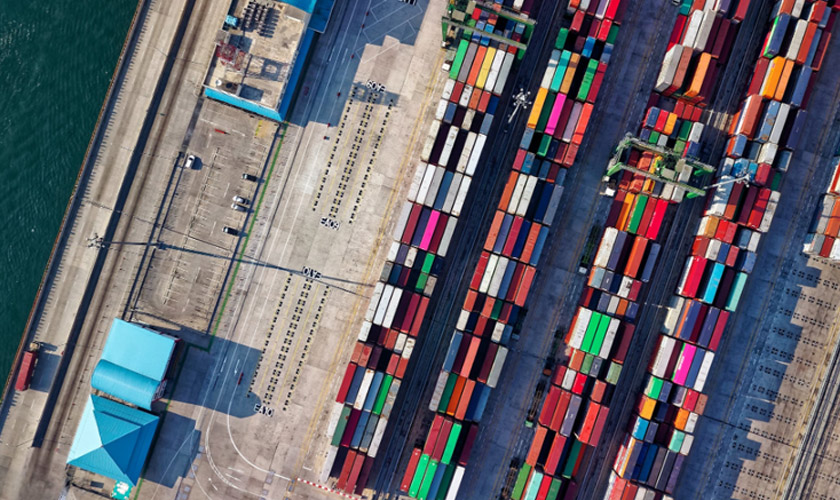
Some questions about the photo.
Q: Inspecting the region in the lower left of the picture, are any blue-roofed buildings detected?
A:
Yes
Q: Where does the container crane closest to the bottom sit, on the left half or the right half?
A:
right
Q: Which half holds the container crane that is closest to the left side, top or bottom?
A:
top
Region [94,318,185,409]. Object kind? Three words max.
shed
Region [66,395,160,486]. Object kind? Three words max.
building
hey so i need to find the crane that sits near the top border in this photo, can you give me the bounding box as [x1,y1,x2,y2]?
[439,0,538,74]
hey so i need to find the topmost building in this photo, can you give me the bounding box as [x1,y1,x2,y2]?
[202,0,336,121]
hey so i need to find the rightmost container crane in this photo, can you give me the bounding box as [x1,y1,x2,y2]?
[600,138,716,207]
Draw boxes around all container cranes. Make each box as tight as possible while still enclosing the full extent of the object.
[600,138,716,207]
[439,0,538,74]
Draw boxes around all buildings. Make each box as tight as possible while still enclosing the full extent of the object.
[94,318,185,409]
[66,395,160,486]
[202,0,336,121]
